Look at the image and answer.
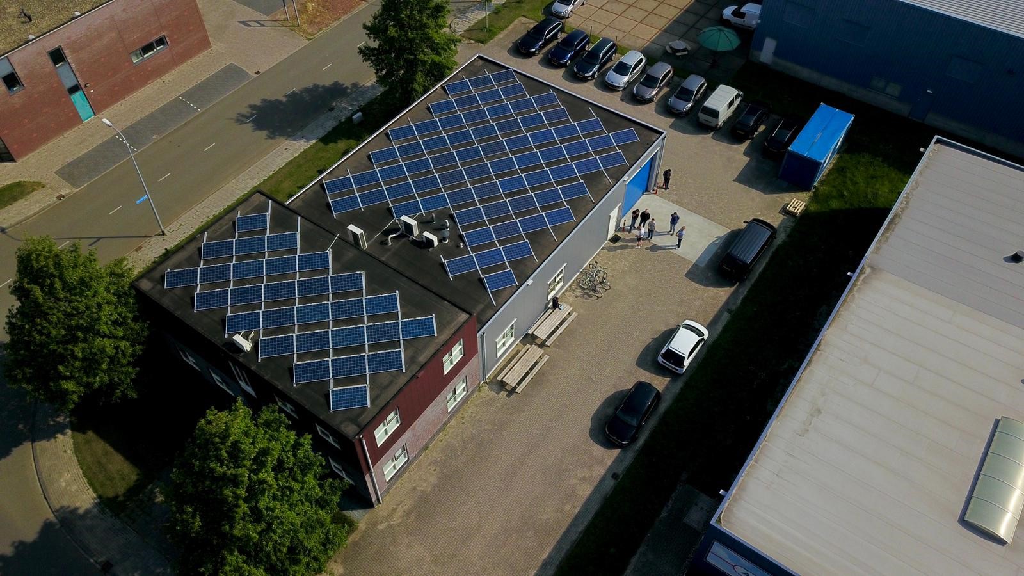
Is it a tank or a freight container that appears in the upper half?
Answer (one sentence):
It is a freight container that can be seen in the upper half.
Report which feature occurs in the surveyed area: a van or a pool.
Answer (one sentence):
The one in the frame is a van.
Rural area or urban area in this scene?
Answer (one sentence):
The area shown here is urban.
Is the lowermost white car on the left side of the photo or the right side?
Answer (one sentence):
It is on the right.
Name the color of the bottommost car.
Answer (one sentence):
The color of the bottommost car is black.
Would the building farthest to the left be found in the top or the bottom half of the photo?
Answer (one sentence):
The building farthest to the left sits in the top half of the picture.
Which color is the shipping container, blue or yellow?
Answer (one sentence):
From above, the shipping container appears blue.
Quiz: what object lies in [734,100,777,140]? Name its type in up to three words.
car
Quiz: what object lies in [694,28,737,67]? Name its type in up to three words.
umbrella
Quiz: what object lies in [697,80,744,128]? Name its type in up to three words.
van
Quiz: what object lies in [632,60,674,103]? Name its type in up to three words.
car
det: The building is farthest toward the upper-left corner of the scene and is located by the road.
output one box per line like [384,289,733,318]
[0,0,212,168]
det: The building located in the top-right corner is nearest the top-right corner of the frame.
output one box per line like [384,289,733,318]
[750,0,1024,158]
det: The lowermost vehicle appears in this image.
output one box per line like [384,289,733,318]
[603,376,665,447]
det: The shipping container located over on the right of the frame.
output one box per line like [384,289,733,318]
[778,104,853,190]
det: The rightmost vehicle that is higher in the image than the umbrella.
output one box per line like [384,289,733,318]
[719,0,765,31]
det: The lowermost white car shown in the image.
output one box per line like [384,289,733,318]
[659,317,709,371]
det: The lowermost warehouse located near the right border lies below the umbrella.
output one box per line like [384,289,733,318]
[688,134,1024,576]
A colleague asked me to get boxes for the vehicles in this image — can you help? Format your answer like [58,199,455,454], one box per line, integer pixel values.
[719,215,779,277]
[632,60,674,103]
[573,39,618,81]
[516,17,561,57]
[697,80,744,128]
[546,29,589,68]
[603,376,665,447]
[659,317,709,371]
[667,77,709,118]
[552,0,587,18]
[605,51,647,90]
[767,111,810,158]
[719,0,765,31]
[734,100,777,140]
